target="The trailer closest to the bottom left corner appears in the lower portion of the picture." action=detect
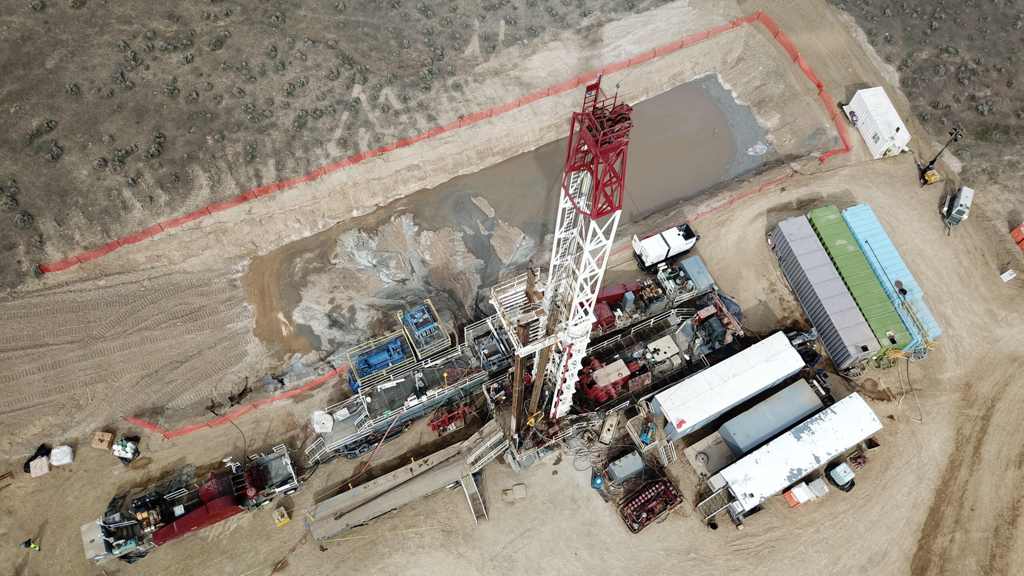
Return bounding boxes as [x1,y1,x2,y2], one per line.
[81,445,302,565]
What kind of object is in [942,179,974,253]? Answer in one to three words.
trailer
